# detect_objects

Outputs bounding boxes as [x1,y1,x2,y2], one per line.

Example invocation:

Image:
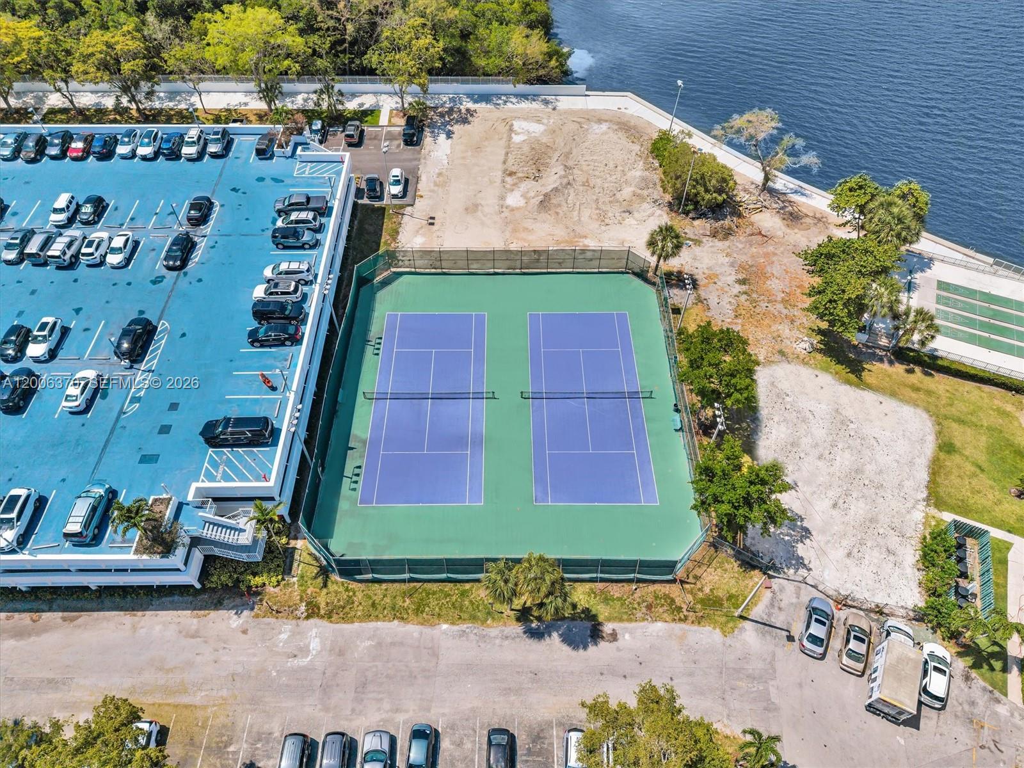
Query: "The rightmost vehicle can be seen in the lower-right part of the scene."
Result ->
[920,640,954,711]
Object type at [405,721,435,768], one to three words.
car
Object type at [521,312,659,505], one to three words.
tennis court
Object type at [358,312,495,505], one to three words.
tennis court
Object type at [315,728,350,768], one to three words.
car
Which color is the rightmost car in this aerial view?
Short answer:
white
